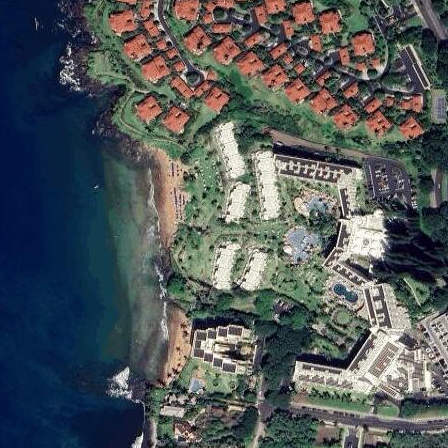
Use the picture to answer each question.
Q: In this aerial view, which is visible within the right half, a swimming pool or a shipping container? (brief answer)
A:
swimming pool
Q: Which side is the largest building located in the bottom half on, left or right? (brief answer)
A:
right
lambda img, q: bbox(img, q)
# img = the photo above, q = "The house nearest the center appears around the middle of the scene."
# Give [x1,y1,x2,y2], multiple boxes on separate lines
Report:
[221,183,247,221]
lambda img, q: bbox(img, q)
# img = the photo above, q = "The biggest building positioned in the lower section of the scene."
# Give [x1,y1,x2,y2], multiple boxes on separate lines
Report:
[275,154,431,401]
